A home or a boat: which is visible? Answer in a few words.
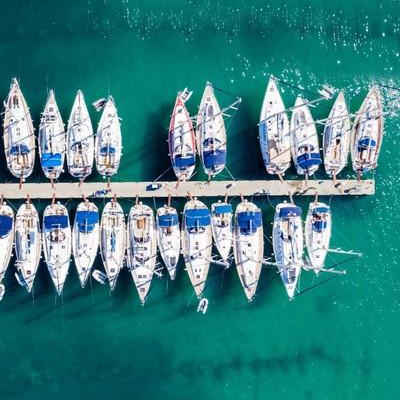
boat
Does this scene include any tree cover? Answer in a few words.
No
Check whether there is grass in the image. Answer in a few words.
No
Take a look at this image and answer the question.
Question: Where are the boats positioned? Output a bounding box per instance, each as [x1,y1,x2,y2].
[209,191,241,277]
[12,270,26,289]
[124,192,158,316]
[319,82,386,184]
[197,71,240,186]
[197,299,209,316]
[318,83,336,99]
[72,194,99,298]
[159,191,186,290]
[92,269,108,286]
[169,87,202,187]
[92,93,122,186]
[181,88,192,102]
[291,90,342,184]
[64,81,96,186]
[0,281,8,298]
[99,194,128,300]
[305,190,359,285]
[182,191,222,310]
[38,78,66,187]
[270,191,342,310]
[259,66,319,184]
[234,191,286,313]
[91,98,108,111]
[0,71,38,189]
[41,194,71,309]
[14,193,42,304]
[0,195,18,282]
[348,79,400,183]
